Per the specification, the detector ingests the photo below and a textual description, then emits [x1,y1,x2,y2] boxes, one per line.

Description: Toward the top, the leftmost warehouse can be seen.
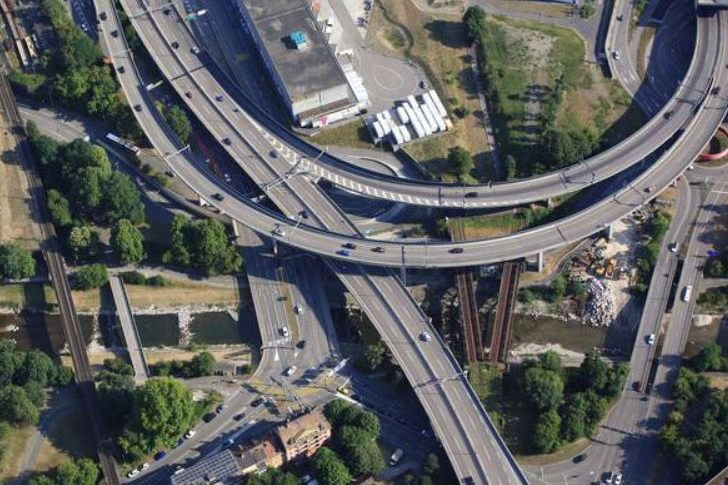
[229,0,371,129]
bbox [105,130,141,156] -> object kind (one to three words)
bus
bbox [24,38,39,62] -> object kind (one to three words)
rail car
